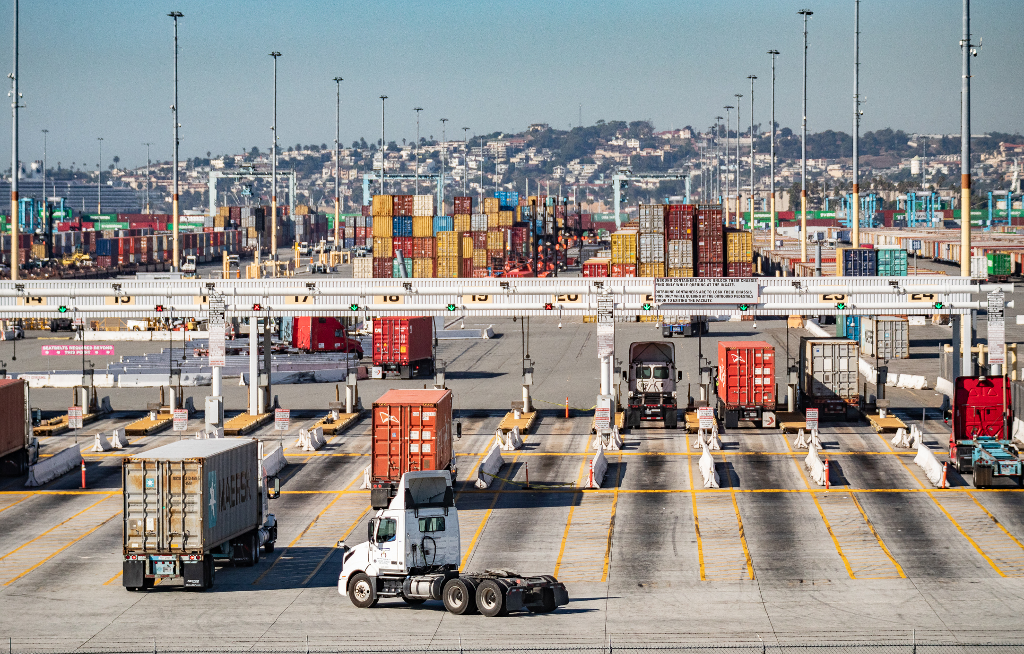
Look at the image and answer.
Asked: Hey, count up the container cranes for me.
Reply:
three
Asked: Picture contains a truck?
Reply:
Yes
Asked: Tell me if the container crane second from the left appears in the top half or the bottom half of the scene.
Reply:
top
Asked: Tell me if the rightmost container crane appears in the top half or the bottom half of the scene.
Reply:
top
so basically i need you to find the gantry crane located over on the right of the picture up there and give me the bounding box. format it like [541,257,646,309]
[613,167,690,234]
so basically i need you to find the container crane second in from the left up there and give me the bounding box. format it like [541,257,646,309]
[364,167,445,216]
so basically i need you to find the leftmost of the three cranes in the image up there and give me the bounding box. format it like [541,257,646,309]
[209,163,297,225]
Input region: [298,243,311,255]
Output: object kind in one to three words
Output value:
vehicle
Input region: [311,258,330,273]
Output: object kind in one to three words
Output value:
vehicle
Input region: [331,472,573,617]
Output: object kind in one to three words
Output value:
truck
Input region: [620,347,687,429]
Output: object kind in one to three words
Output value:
truck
